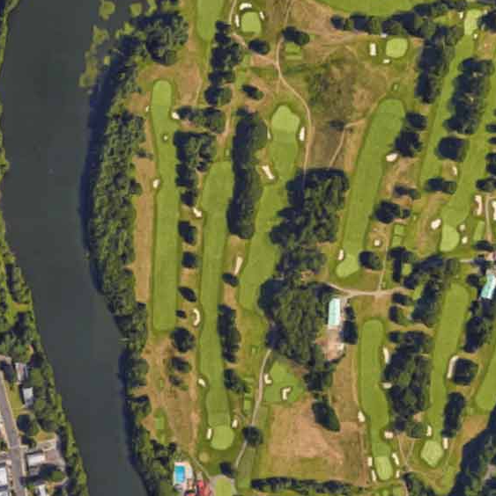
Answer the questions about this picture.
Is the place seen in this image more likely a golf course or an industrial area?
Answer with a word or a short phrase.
golf course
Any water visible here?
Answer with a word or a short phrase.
Yes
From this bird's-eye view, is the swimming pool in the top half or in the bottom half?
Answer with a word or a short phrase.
bottom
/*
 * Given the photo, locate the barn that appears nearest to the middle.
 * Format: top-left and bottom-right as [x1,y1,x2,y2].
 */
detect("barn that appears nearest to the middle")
[327,297,342,328]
